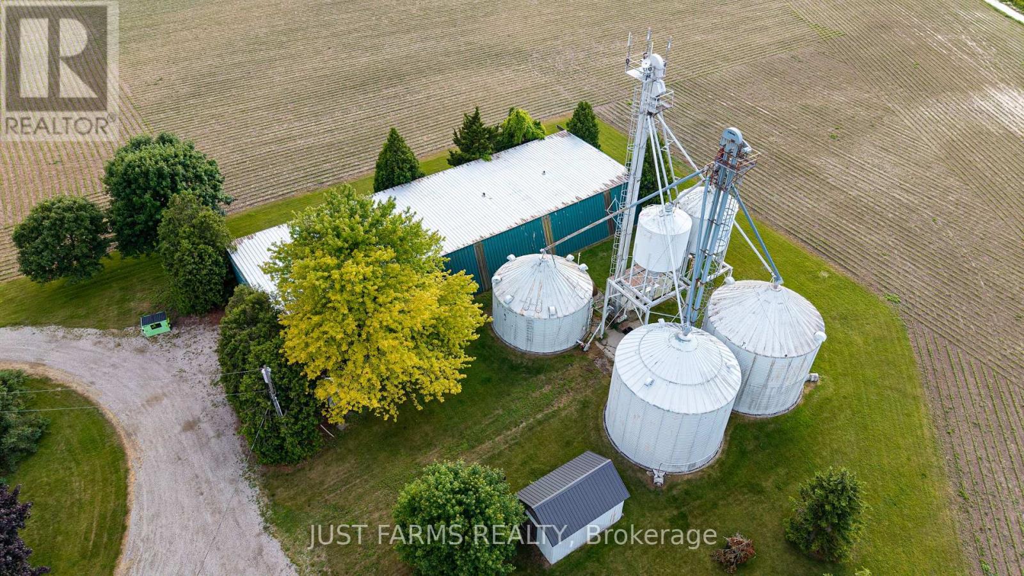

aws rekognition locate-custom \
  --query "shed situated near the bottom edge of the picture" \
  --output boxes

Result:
[511,453,631,565]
